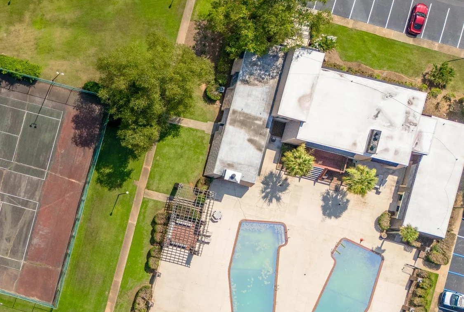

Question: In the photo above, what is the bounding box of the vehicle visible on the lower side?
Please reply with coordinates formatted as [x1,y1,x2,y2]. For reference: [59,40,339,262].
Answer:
[436,292,464,312]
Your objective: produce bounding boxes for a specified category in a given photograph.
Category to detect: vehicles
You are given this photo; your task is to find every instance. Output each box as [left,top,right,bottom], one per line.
[405,3,427,35]
[436,292,464,312]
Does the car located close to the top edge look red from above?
Yes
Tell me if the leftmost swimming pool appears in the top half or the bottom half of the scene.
bottom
